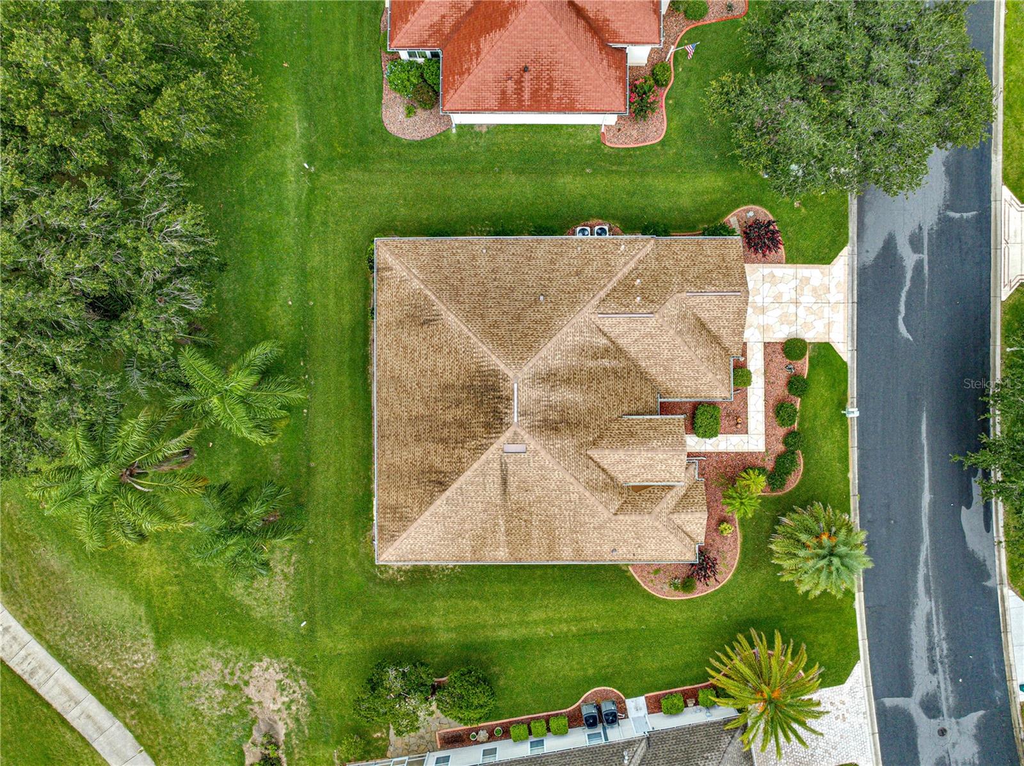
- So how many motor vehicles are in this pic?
none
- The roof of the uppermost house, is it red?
Yes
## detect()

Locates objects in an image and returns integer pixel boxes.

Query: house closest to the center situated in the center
[374,236,751,565]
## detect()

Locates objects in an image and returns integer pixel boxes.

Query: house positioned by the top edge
[387,0,663,134]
